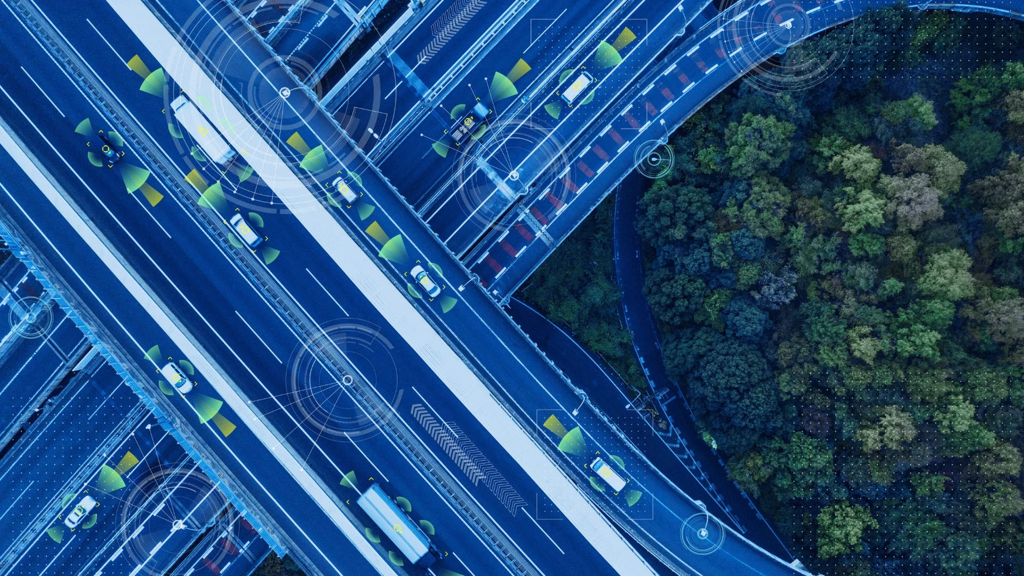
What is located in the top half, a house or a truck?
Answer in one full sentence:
You can see a truck in the top half.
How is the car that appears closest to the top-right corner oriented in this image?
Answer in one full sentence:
In this picture, the car that appears closest to the top-right corner lies on a diagonal.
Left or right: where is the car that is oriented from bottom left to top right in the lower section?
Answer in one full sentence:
You can find the car that is oriented from bottom left to top right in the lower section on the left side of the picture.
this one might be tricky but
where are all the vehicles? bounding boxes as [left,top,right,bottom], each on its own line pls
[446,100,490,146]
[93,134,123,163]
[64,495,98,529]
[410,265,442,298]
[357,480,445,576]
[160,360,195,394]
[230,213,263,248]
[590,456,627,493]
[561,73,593,105]
[332,176,359,204]
[169,93,244,170]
